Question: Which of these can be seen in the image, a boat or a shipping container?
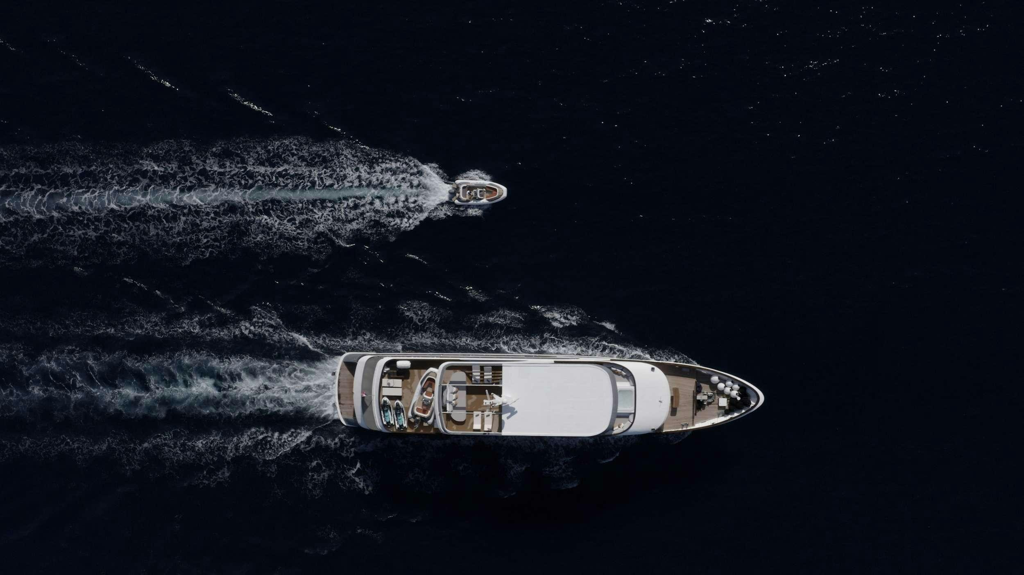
boat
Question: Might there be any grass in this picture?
No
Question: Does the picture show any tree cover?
No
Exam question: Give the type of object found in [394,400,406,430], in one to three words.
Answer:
boat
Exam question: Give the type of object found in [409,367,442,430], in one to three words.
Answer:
boat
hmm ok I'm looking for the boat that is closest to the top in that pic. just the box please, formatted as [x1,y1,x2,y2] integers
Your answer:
[449,180,507,205]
